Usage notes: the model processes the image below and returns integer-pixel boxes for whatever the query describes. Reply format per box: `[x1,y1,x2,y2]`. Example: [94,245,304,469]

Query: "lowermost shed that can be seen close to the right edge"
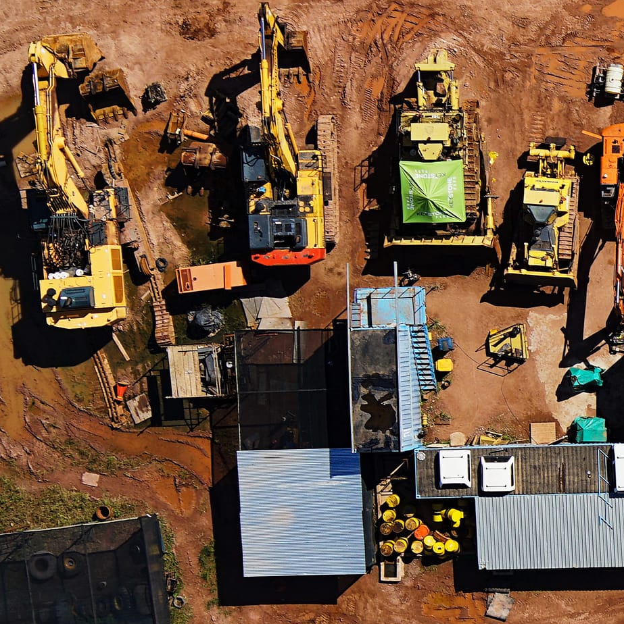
[475,494,624,569]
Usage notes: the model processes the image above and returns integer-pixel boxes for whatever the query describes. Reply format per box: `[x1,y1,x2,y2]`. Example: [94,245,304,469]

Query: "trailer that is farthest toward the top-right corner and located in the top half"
[593,57,624,99]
